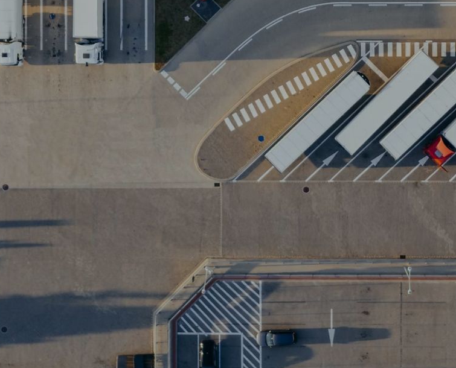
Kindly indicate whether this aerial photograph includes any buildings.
No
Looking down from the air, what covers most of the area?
paved ground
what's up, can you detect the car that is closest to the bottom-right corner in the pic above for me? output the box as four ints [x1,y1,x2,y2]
[257,328,295,349]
